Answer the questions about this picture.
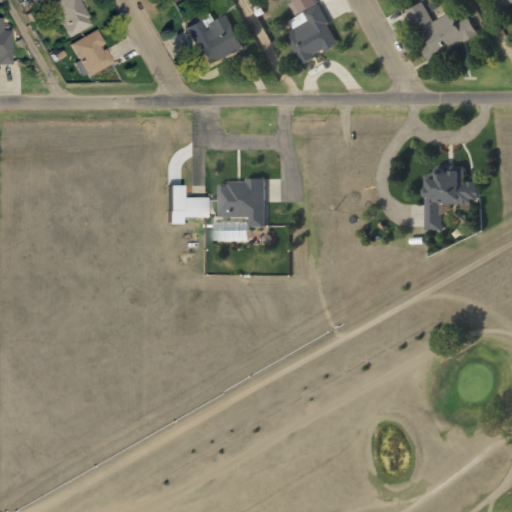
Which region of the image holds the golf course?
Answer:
bottom right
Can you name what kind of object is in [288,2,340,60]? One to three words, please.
house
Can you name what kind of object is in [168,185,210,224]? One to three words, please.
barn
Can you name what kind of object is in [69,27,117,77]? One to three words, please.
house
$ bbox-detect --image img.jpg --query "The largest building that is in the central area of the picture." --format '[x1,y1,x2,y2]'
[217,179,266,226]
